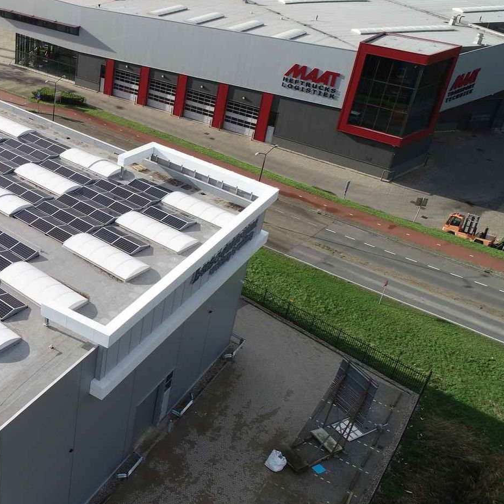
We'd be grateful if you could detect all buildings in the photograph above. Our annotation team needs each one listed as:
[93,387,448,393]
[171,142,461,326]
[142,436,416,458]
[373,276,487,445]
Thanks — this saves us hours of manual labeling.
[0,0,504,181]
[0,101,280,504]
